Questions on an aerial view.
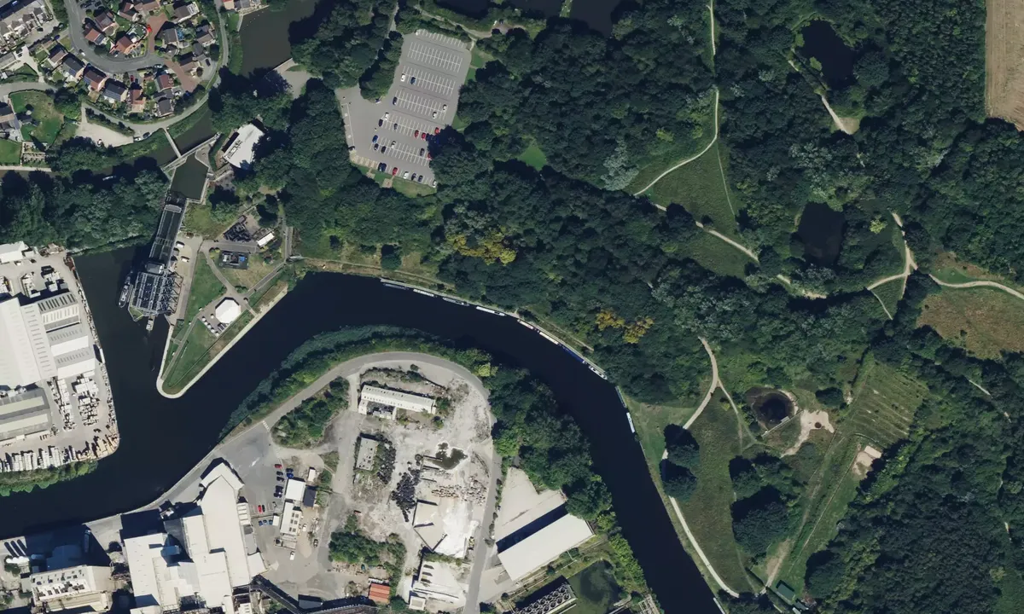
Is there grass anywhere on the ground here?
Yes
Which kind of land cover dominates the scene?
trees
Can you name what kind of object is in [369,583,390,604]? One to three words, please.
shed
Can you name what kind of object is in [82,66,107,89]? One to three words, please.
house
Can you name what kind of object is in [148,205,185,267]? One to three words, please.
bridge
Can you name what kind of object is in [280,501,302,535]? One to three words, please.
building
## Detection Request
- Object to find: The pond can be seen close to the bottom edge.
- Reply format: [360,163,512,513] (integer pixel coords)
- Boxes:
[563,560,623,614]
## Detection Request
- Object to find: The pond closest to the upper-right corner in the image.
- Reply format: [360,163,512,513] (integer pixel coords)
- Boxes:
[801,20,854,88]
